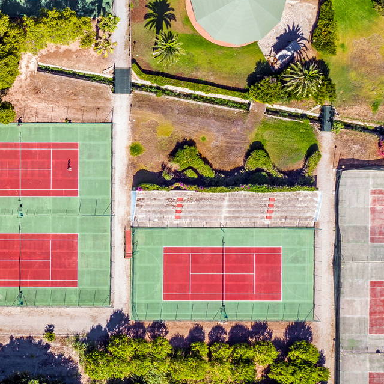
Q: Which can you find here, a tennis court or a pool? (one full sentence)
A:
The one in the frame is a tennis court.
